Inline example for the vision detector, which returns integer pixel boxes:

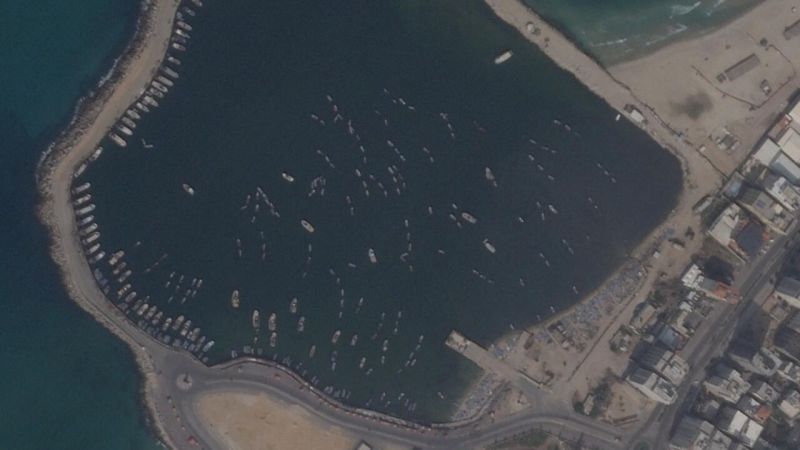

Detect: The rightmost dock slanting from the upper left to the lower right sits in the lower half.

[445,331,511,379]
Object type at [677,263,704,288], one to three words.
building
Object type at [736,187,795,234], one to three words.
building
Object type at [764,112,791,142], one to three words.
house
